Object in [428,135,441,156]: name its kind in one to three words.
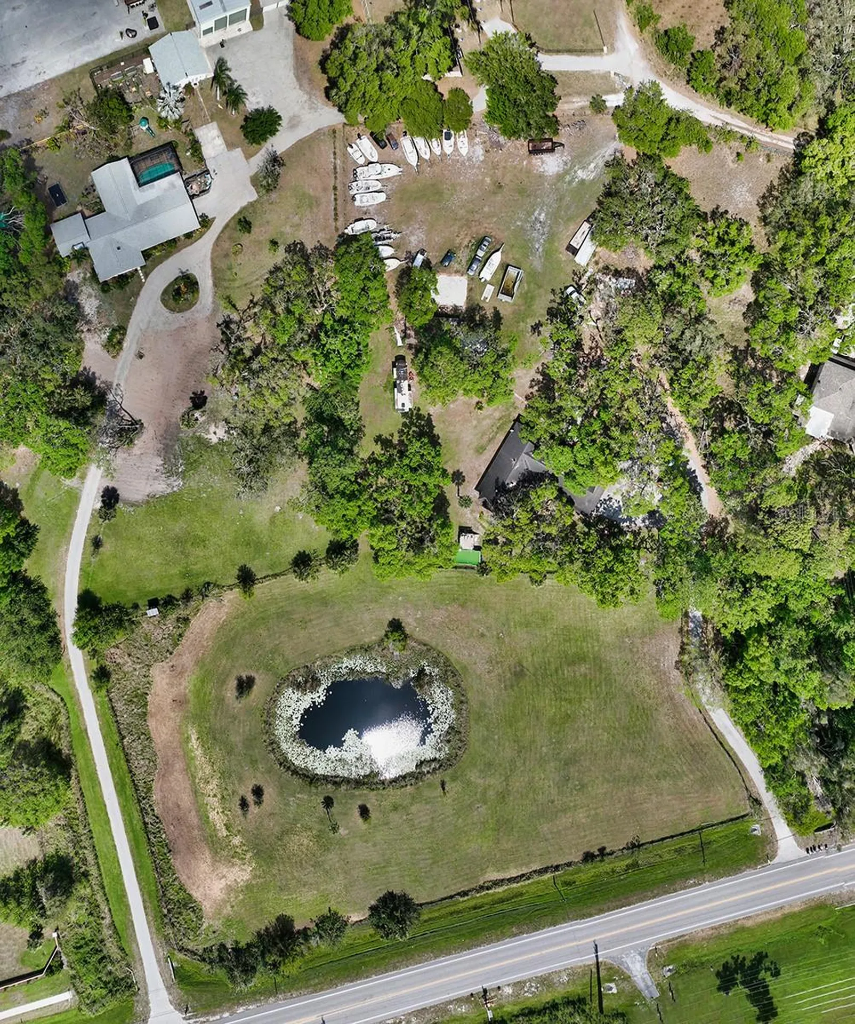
boat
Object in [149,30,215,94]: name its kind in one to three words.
building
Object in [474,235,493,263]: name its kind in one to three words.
vehicle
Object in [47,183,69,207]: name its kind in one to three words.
trampoline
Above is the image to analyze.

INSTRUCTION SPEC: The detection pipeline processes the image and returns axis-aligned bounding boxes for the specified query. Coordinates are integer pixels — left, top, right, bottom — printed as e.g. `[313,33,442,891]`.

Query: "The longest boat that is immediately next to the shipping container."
[477,252,500,283]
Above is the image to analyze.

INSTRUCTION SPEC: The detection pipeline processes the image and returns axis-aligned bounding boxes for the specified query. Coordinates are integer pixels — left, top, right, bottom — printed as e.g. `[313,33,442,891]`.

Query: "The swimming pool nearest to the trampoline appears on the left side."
[130,143,182,185]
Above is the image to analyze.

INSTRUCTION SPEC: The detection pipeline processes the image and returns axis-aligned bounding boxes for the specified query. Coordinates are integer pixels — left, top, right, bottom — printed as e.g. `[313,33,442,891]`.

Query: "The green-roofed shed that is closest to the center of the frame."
[454,551,481,566]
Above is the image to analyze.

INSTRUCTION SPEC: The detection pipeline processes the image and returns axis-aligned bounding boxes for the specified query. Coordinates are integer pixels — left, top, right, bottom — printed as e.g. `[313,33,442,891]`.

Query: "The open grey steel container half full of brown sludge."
[496,266,523,303]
